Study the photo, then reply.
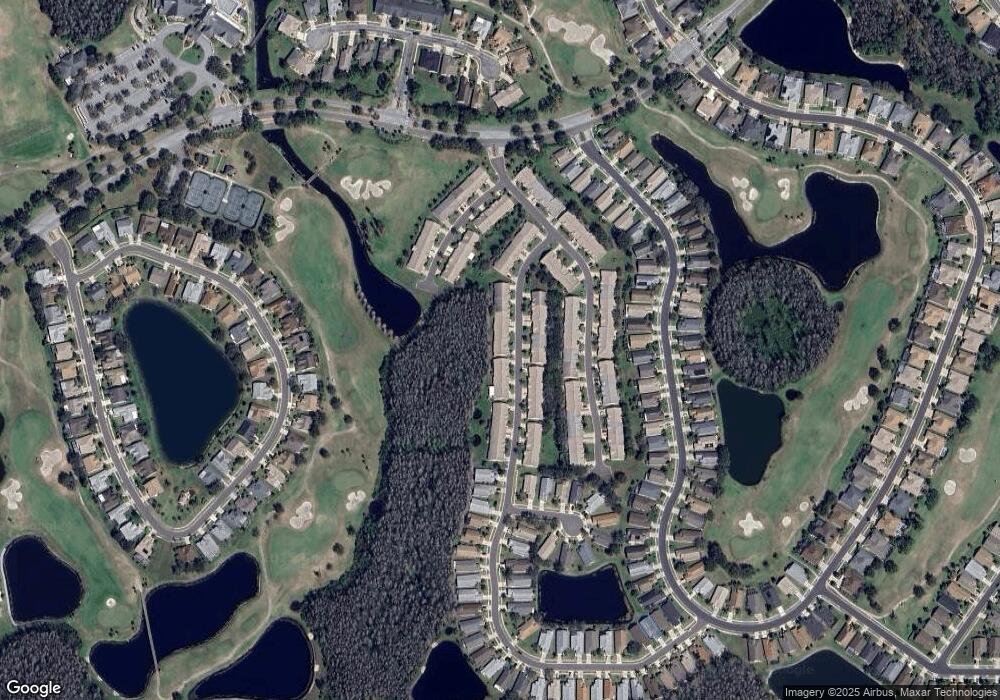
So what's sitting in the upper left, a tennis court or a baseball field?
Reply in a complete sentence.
What appears in the upper left is a tennis court.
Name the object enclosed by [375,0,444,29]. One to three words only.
building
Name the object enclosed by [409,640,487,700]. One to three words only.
pond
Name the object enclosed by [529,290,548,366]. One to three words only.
house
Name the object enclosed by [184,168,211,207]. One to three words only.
tennis court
